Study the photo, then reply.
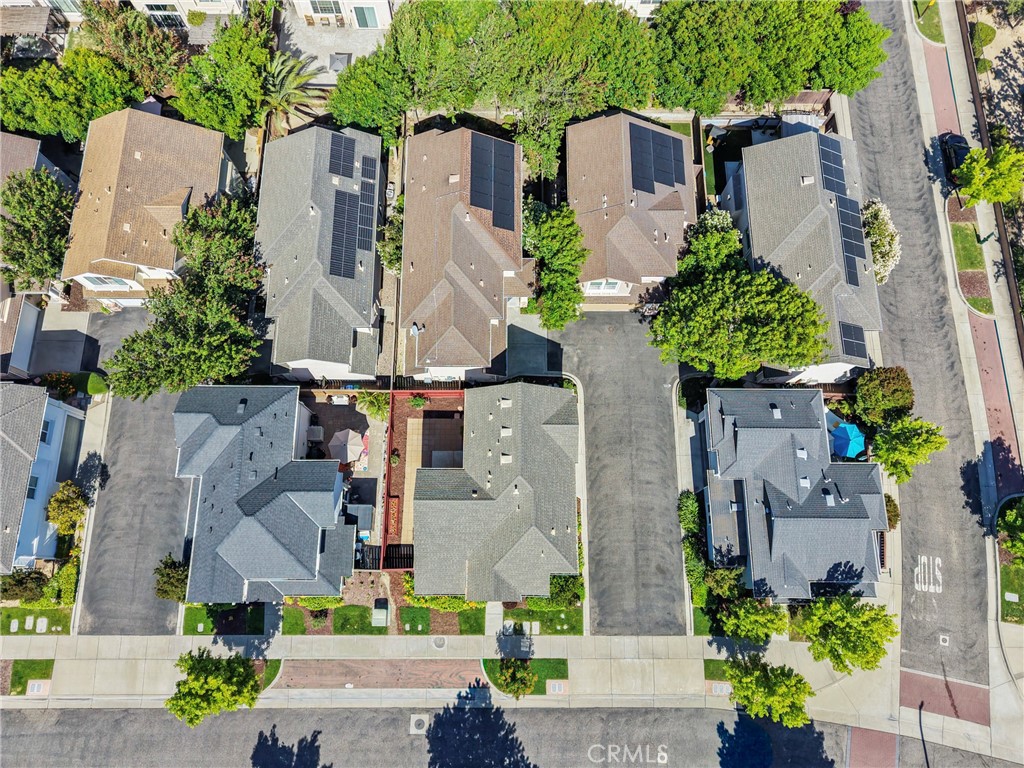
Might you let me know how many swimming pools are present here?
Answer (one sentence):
The count of swimming pools is 0.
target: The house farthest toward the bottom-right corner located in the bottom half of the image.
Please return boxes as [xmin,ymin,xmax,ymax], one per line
[697,388,888,605]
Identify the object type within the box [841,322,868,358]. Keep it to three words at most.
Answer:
solar array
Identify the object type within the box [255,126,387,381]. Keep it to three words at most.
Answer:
house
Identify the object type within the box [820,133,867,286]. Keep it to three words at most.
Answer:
solar array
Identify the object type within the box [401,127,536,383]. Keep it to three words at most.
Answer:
house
